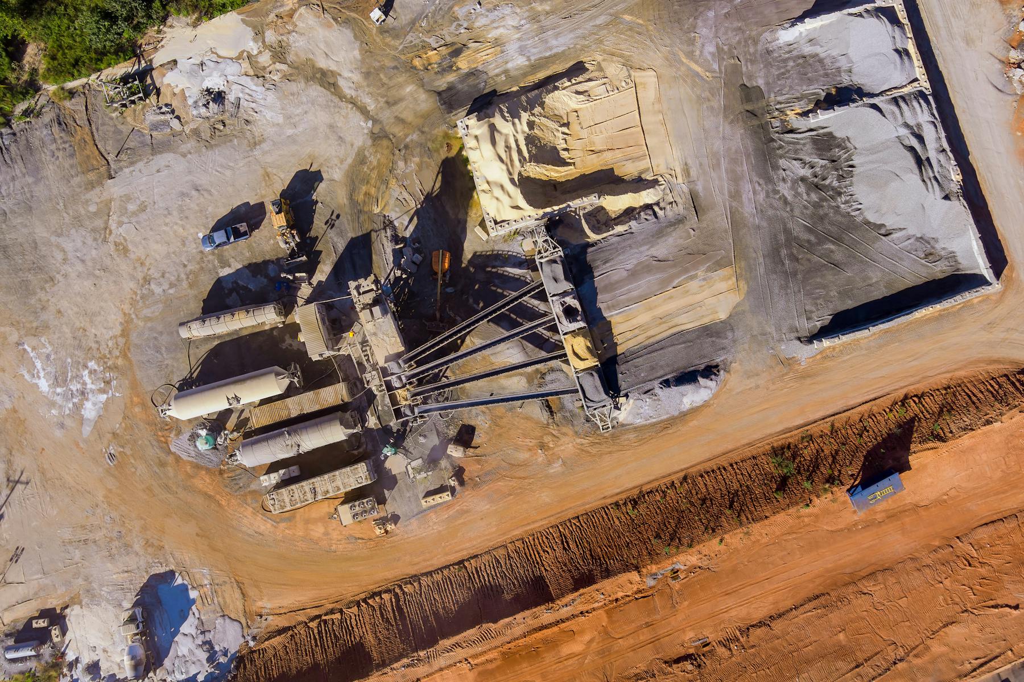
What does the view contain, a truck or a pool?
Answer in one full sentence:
It is a truck that can be seen here.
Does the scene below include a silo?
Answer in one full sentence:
Yes, the frame does contain a silo.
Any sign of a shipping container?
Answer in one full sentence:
Yes, I can see a shipping container in this picture.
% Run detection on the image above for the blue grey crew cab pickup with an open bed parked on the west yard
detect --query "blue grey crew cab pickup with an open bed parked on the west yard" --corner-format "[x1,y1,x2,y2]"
[200,225,255,255]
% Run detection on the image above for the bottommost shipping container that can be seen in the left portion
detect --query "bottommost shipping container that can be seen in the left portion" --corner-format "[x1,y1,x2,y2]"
[249,380,353,429]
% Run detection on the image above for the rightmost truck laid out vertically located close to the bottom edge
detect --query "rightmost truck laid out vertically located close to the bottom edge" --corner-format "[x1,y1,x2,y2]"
[117,598,154,682]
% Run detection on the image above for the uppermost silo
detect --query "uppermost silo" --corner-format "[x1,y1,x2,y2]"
[159,362,307,420]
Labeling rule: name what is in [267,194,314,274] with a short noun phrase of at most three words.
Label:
work vehicle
